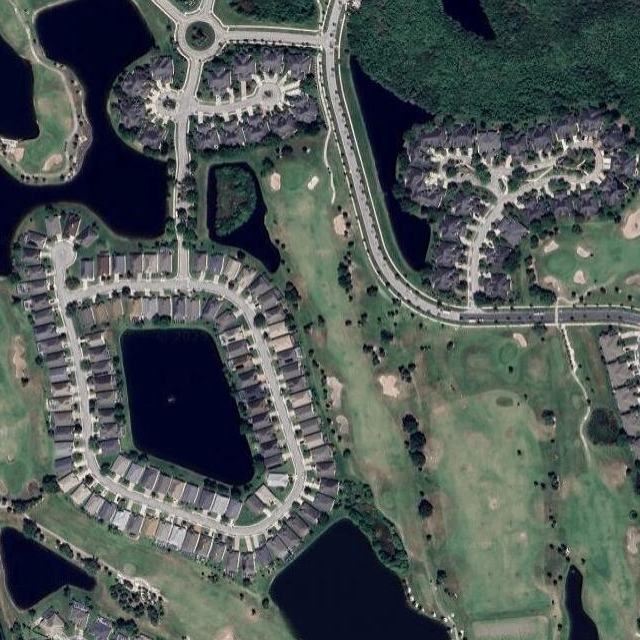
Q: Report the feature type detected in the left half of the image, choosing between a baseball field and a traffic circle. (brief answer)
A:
traffic circle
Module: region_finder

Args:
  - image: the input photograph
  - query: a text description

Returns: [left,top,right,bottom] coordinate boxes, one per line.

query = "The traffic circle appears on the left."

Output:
[175,11,225,61]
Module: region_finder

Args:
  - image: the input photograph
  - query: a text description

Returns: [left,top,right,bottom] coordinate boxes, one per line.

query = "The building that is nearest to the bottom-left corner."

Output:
[39,611,65,638]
